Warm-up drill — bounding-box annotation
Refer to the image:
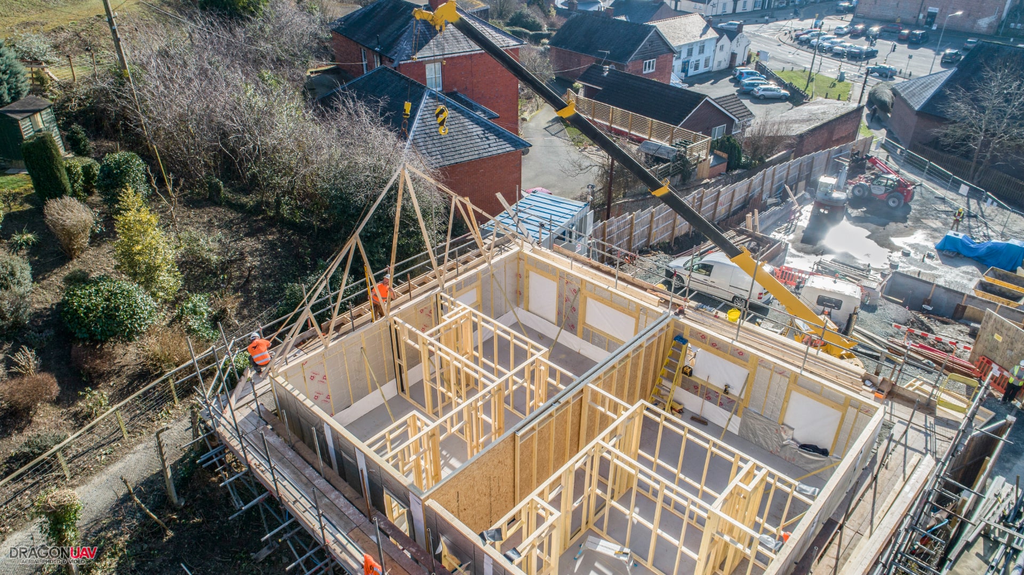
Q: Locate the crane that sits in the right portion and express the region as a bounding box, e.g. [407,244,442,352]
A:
[410,0,910,389]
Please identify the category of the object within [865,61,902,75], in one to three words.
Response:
car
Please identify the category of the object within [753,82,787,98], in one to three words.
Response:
car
